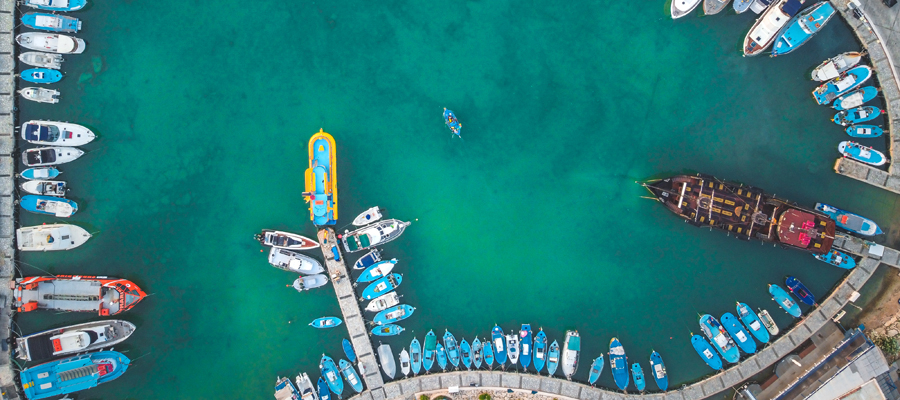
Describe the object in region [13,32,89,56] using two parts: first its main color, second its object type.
white boat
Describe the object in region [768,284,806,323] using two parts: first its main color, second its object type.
blue boat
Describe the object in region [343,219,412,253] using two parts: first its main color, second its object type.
white boat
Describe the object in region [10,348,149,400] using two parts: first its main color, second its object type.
blue boat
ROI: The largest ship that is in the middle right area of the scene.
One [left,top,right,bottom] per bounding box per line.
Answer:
[635,175,850,255]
